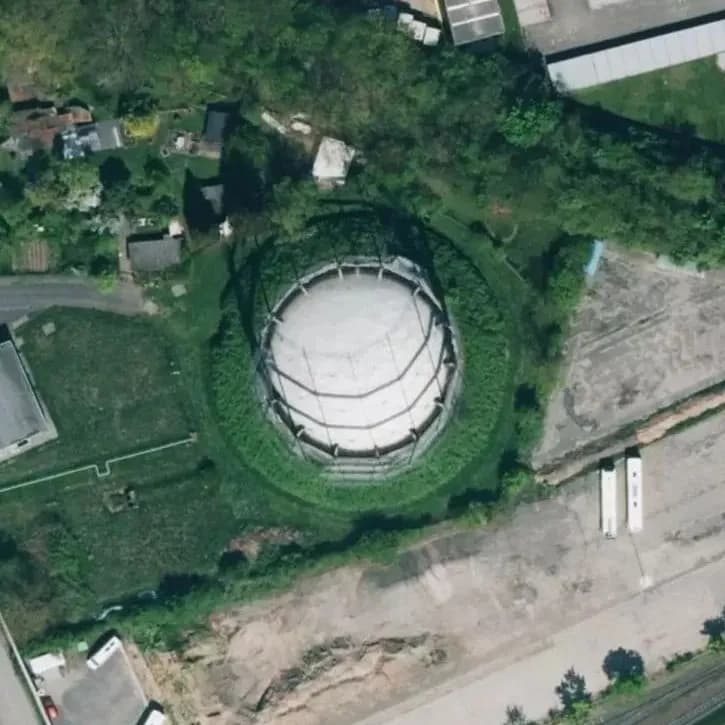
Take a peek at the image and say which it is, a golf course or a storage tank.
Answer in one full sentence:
Of the two, only a storage tank appears.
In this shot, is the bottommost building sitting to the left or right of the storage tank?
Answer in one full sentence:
From the viewer's perspective, the bottommost building falls to the left of the storage tank.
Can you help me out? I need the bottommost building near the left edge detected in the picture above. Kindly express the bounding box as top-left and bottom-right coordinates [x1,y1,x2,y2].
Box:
[0,338,47,437]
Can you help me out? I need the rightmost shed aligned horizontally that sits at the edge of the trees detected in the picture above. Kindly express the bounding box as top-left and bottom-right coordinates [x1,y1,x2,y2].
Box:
[548,17,725,91]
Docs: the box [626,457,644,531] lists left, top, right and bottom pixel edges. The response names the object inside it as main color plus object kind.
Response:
white vehicle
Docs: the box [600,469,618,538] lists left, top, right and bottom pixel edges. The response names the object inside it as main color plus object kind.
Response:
white vehicle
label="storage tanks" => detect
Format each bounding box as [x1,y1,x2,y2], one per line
[249,257,467,483]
